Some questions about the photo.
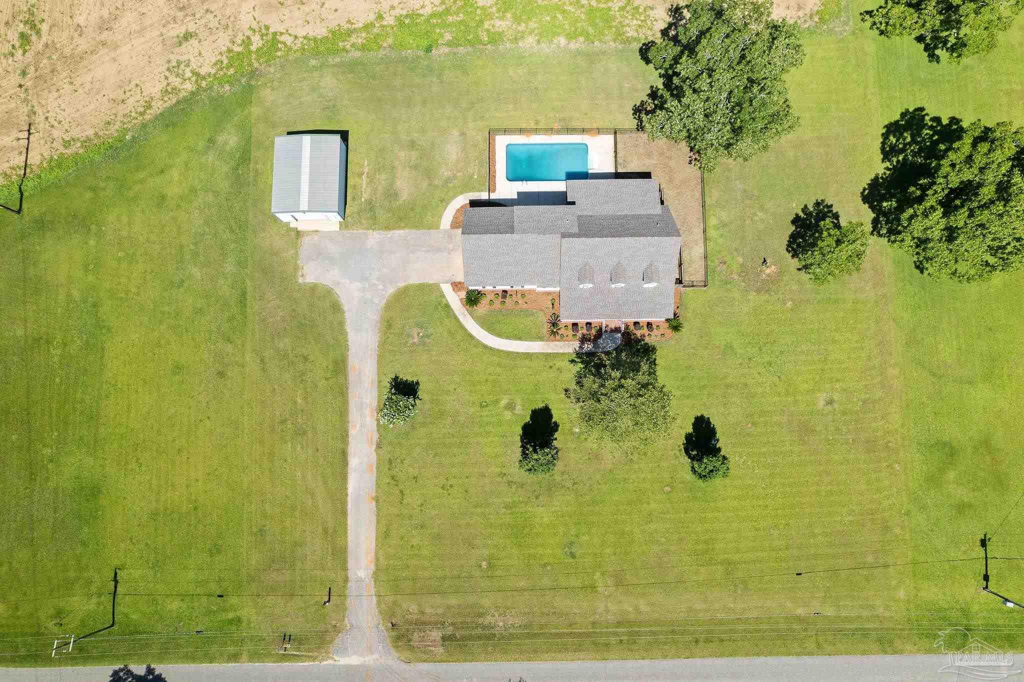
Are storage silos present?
No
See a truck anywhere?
No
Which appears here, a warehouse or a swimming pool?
swimming pool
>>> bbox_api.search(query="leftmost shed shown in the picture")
[272,132,346,221]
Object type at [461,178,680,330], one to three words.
house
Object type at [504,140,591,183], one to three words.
swimming pool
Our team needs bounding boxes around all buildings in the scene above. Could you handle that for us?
[461,178,680,330]
[272,132,346,221]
